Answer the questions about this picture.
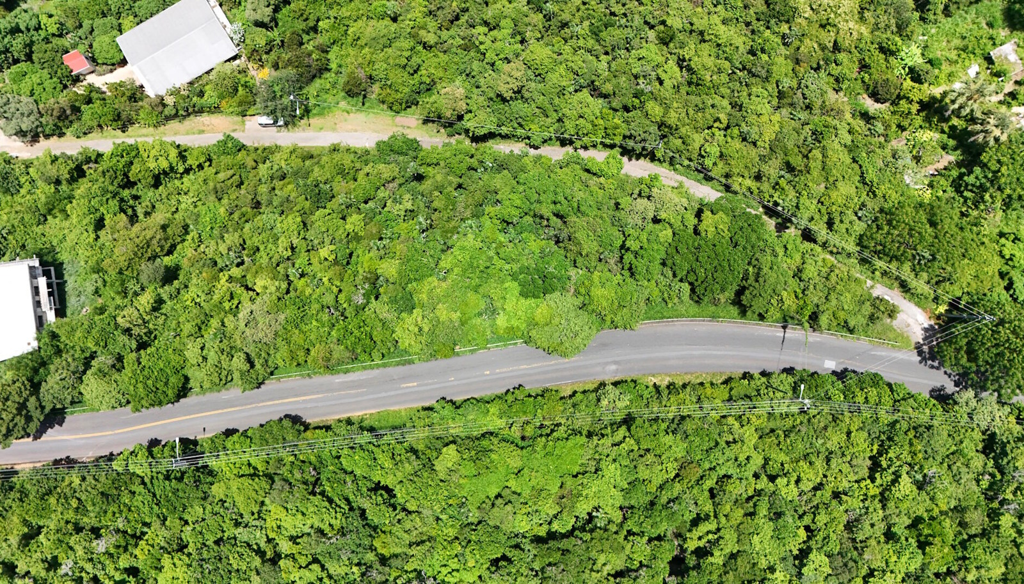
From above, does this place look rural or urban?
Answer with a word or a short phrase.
rural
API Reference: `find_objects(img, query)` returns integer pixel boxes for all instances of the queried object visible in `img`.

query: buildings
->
[62,50,94,76]
[0,254,73,363]
[116,0,243,99]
